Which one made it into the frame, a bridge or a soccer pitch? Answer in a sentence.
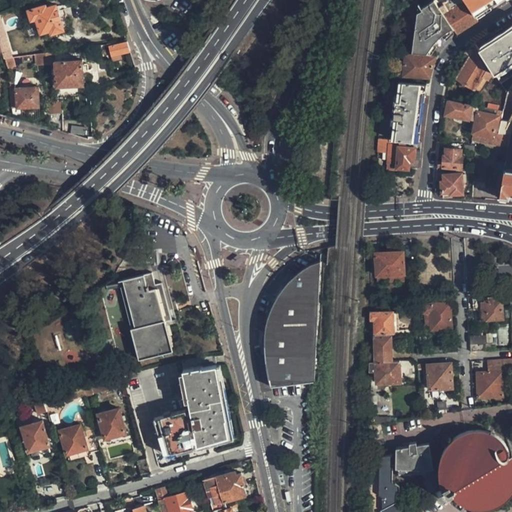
Visible in the photo is a bridge.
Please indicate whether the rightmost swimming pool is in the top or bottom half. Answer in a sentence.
Seen from above, the rightmost swimming pool lies in the bottom half of the view.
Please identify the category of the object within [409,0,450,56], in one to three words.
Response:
building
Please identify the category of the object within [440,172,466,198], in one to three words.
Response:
house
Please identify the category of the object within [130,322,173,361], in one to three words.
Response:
building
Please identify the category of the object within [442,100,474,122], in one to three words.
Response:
house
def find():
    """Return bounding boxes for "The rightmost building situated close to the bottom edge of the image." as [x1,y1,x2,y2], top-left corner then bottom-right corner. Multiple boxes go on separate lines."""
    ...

[434,426,512,512]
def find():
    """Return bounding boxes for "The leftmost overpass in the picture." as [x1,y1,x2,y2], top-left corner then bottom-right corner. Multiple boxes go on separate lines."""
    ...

[0,0,274,278]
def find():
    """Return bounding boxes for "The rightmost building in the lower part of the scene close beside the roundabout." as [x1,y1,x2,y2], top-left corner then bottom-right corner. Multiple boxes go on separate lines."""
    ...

[265,262,320,386]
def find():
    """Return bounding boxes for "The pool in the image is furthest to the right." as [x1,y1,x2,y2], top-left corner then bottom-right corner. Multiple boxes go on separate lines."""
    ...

[61,402,84,424]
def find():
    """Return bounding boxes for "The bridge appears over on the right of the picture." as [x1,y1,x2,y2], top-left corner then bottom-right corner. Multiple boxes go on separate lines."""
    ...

[324,193,369,256]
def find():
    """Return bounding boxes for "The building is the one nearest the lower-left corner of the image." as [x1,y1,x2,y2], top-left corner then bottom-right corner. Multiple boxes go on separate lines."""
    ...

[19,420,52,456]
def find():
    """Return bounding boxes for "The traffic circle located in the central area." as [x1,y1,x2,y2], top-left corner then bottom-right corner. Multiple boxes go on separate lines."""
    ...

[203,165,289,251]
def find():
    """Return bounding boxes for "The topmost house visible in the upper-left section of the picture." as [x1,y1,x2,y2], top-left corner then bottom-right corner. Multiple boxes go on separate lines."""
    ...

[25,5,66,37]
